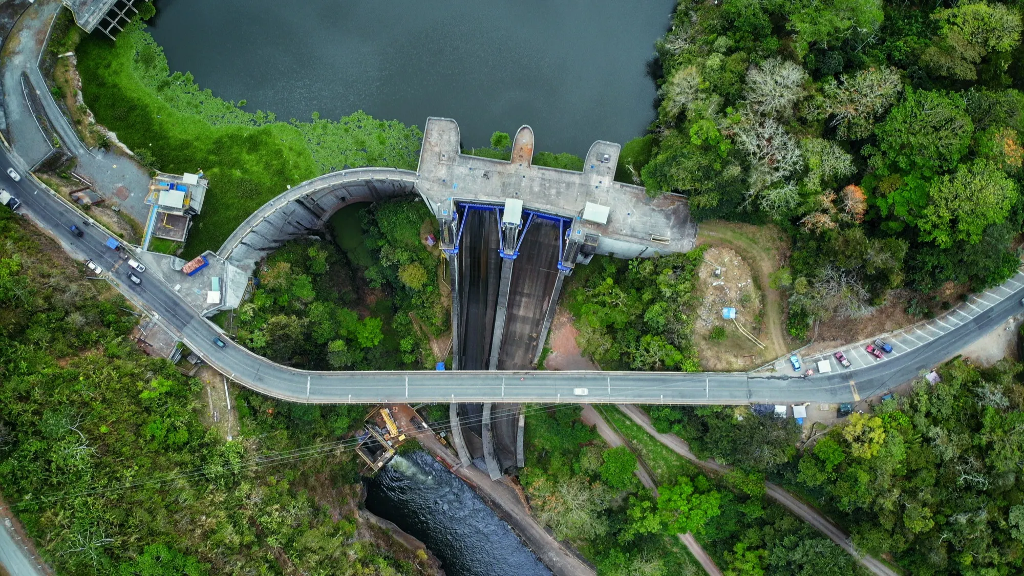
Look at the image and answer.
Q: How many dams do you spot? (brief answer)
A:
2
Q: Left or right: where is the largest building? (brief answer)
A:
left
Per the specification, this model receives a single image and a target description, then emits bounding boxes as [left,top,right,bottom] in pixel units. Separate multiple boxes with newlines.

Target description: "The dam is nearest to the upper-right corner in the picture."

[416,116,697,276]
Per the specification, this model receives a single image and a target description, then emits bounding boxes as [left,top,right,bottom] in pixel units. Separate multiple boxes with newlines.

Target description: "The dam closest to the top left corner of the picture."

[216,166,420,259]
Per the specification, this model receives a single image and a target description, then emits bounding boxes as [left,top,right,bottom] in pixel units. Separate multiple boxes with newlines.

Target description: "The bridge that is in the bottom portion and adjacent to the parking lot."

[184,317,751,408]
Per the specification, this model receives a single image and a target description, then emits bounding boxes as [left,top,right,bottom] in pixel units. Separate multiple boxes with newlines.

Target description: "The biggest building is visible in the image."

[143,169,209,216]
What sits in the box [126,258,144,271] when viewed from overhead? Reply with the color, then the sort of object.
white vehicle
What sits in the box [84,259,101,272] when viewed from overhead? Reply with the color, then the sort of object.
white vehicle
